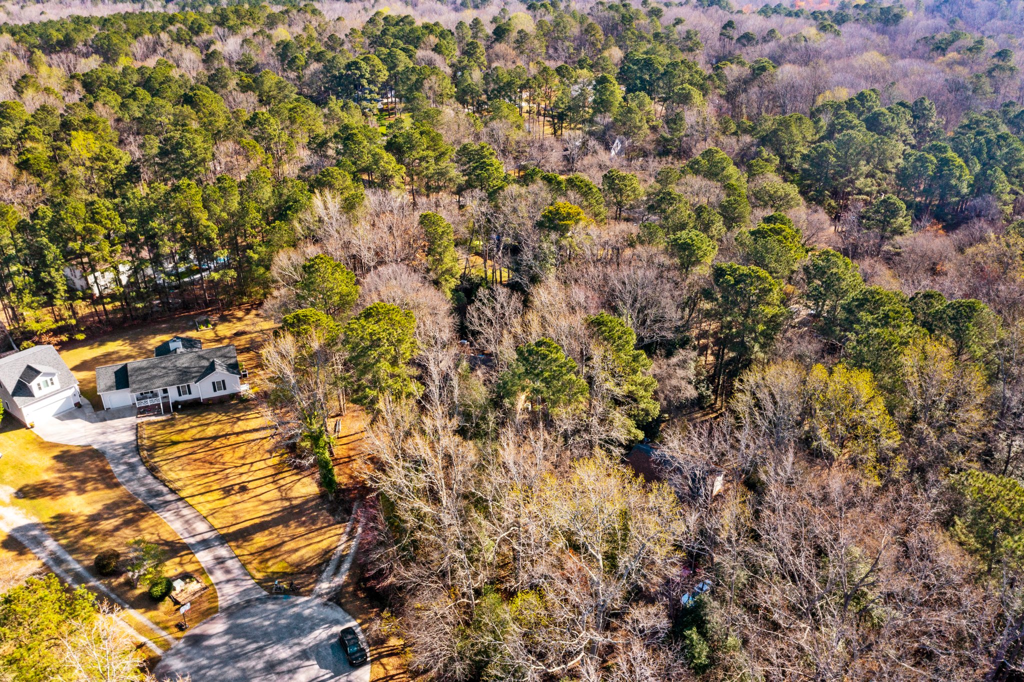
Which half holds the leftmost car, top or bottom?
bottom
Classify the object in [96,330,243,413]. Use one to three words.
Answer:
house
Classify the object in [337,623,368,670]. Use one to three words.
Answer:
car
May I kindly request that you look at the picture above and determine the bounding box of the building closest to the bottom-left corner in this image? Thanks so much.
[0,340,82,426]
